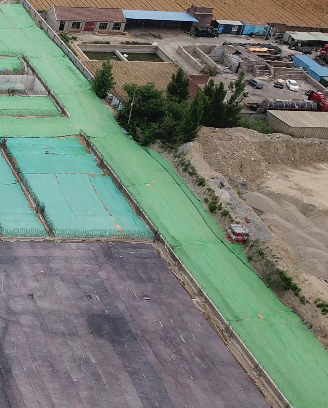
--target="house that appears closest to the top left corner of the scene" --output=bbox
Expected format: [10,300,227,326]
[46,1,130,37]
